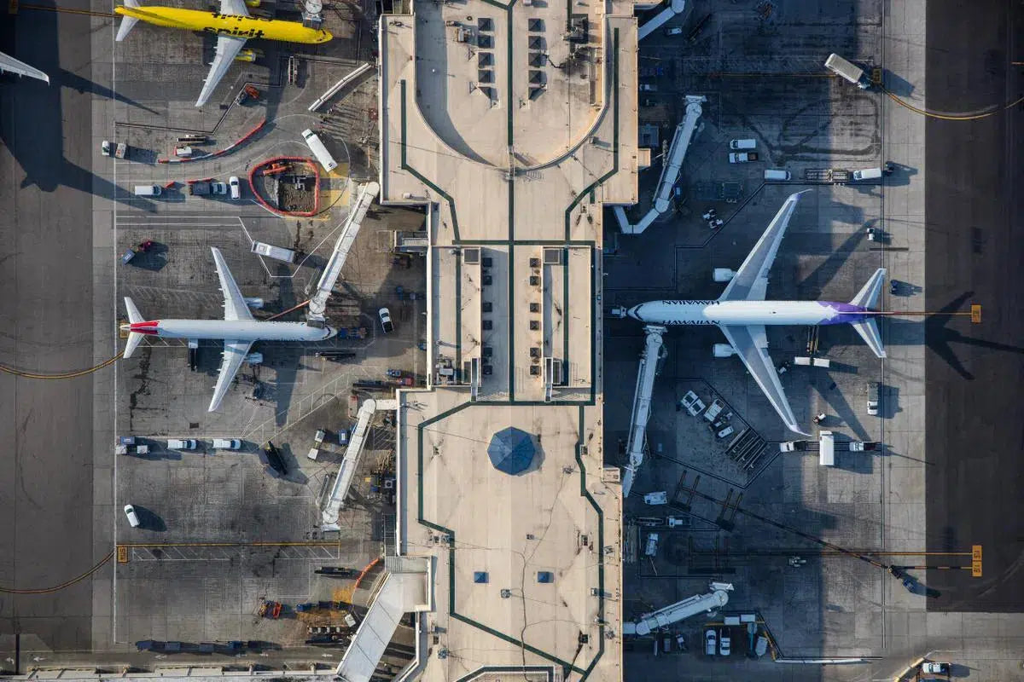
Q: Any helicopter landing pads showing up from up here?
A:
No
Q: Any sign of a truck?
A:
Yes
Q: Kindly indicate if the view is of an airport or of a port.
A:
airport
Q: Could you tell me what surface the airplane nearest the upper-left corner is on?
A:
apron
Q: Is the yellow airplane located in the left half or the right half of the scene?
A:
left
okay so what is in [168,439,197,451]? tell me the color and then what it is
white vehicle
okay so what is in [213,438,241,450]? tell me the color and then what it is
white vehicle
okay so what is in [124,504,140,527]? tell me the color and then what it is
white car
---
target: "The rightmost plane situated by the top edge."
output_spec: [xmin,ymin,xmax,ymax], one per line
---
[117,0,333,103]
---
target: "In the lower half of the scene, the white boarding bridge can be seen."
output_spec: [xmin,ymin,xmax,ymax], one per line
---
[321,399,394,532]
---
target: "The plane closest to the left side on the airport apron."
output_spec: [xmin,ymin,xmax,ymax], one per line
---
[0,43,52,87]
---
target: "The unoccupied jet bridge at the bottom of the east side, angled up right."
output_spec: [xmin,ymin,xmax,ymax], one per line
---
[625,578,730,637]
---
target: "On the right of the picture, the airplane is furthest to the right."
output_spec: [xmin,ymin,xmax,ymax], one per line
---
[628,187,892,438]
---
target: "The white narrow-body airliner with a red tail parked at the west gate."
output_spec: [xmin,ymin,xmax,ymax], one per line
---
[123,247,337,411]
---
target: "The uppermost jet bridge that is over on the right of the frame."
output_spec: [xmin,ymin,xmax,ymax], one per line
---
[641,0,688,39]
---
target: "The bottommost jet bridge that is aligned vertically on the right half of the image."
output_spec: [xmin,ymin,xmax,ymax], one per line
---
[622,323,665,494]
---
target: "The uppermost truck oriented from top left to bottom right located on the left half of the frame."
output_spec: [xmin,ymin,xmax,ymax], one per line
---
[301,129,341,172]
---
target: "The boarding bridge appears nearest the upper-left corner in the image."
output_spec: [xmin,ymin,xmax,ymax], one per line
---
[304,0,328,32]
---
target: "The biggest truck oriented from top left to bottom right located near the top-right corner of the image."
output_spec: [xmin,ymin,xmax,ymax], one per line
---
[823,55,867,92]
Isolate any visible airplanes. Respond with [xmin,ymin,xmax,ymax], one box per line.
[628,187,892,438]
[117,0,333,103]
[123,247,337,411]
[0,43,52,87]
